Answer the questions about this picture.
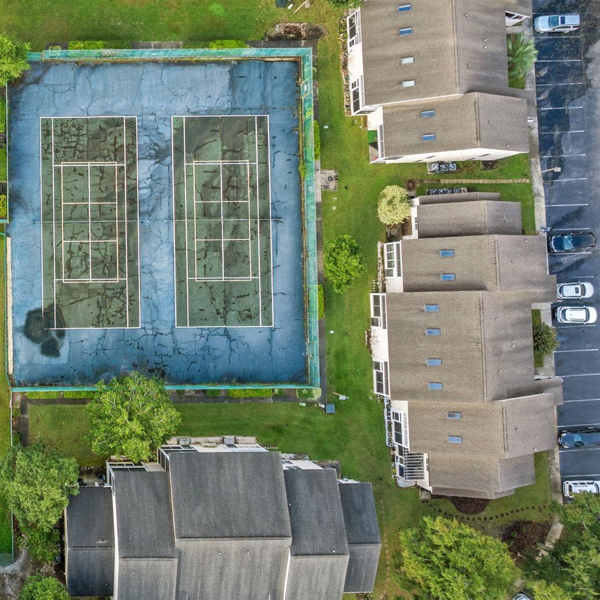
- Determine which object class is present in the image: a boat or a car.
car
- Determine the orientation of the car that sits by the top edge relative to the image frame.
from left to right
